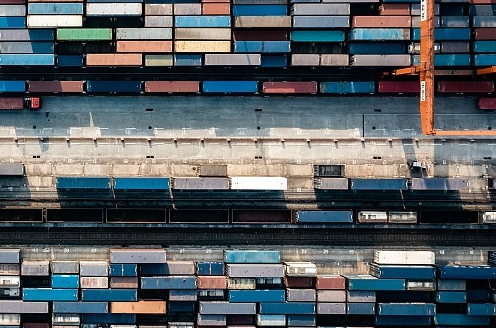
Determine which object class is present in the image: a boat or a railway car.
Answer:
railway car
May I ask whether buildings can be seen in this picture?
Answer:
No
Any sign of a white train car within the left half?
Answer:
No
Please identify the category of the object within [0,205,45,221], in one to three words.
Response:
rail car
